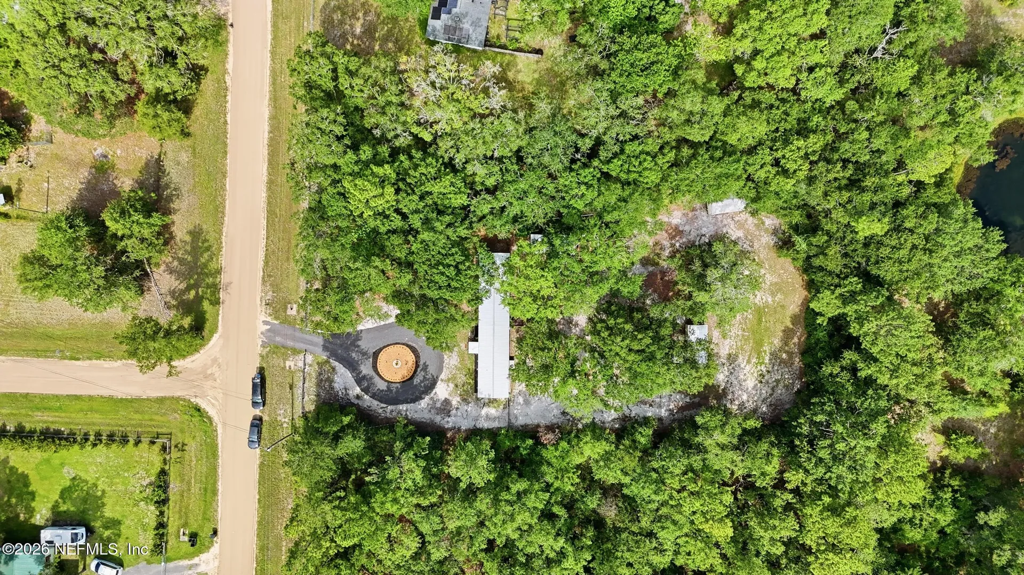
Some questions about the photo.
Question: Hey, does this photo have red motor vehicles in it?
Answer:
No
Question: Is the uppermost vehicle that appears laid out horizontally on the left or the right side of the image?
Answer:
left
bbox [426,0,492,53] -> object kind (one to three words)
house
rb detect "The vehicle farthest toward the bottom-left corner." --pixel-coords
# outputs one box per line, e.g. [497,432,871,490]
[41,524,94,545]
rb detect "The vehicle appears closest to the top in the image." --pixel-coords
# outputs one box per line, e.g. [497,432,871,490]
[250,373,266,408]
